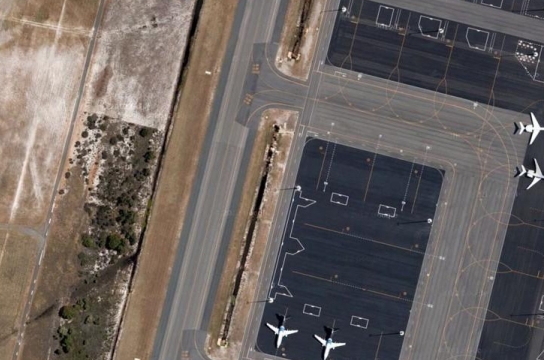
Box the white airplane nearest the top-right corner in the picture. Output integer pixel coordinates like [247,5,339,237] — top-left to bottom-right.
[520,113,544,144]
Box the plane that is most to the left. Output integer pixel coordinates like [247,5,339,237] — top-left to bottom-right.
[268,308,299,348]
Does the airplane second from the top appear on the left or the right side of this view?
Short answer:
right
